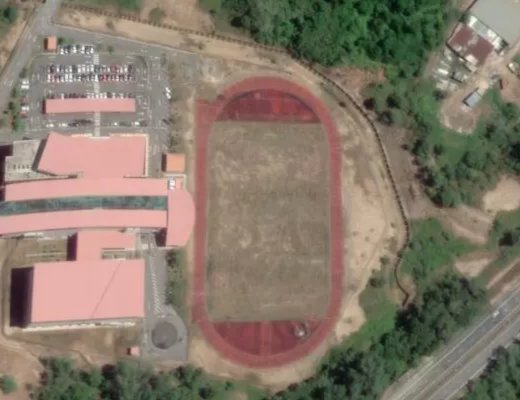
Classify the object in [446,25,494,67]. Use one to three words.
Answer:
shed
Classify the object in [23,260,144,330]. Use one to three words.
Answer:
building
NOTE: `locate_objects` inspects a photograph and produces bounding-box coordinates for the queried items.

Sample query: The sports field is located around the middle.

[207,123,330,321]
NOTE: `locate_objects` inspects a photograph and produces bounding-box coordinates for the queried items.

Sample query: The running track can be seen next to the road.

[193,77,344,368]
